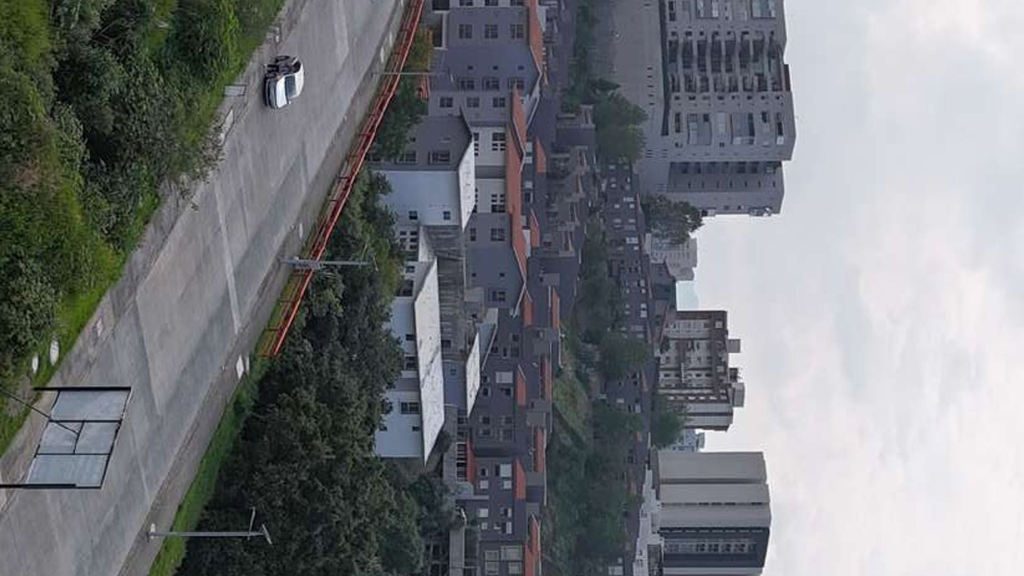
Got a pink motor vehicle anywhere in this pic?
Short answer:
No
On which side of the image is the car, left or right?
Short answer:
left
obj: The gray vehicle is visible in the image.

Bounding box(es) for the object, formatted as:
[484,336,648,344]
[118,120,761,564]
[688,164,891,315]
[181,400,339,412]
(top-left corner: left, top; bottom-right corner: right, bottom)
[265,61,310,105]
